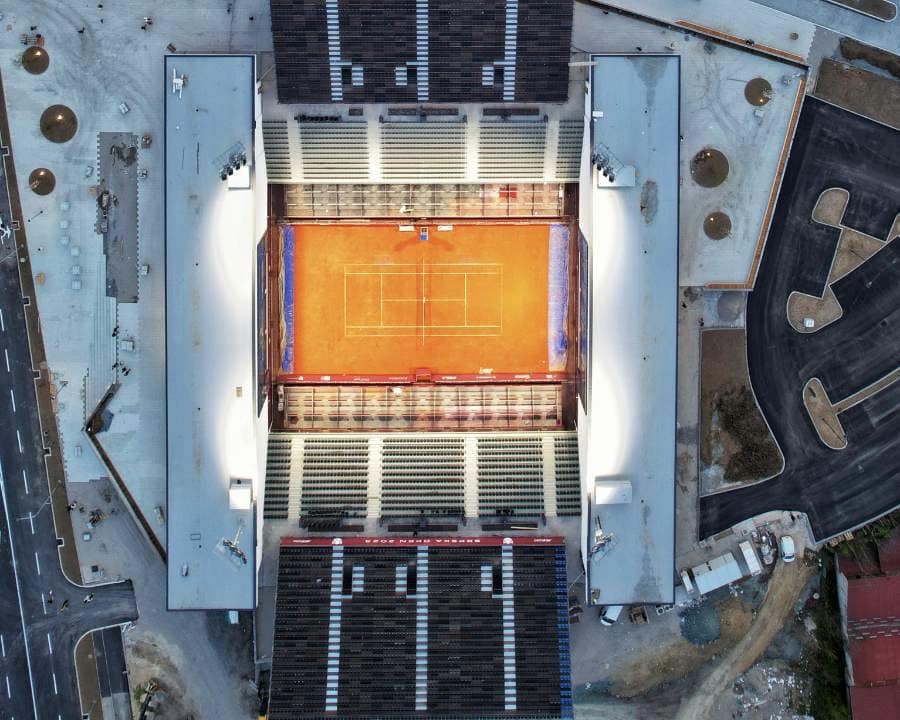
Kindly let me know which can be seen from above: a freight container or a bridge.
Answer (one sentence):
I can see a freight container in this picture.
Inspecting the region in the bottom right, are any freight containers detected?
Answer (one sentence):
Yes, a freight container is visible in the bottom right.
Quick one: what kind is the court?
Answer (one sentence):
The court appears to be a tennis court.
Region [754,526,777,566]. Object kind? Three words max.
truck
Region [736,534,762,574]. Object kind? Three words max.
shipping container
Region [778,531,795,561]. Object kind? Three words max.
car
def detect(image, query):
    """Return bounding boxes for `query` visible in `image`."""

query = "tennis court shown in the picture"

[273,217,572,384]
